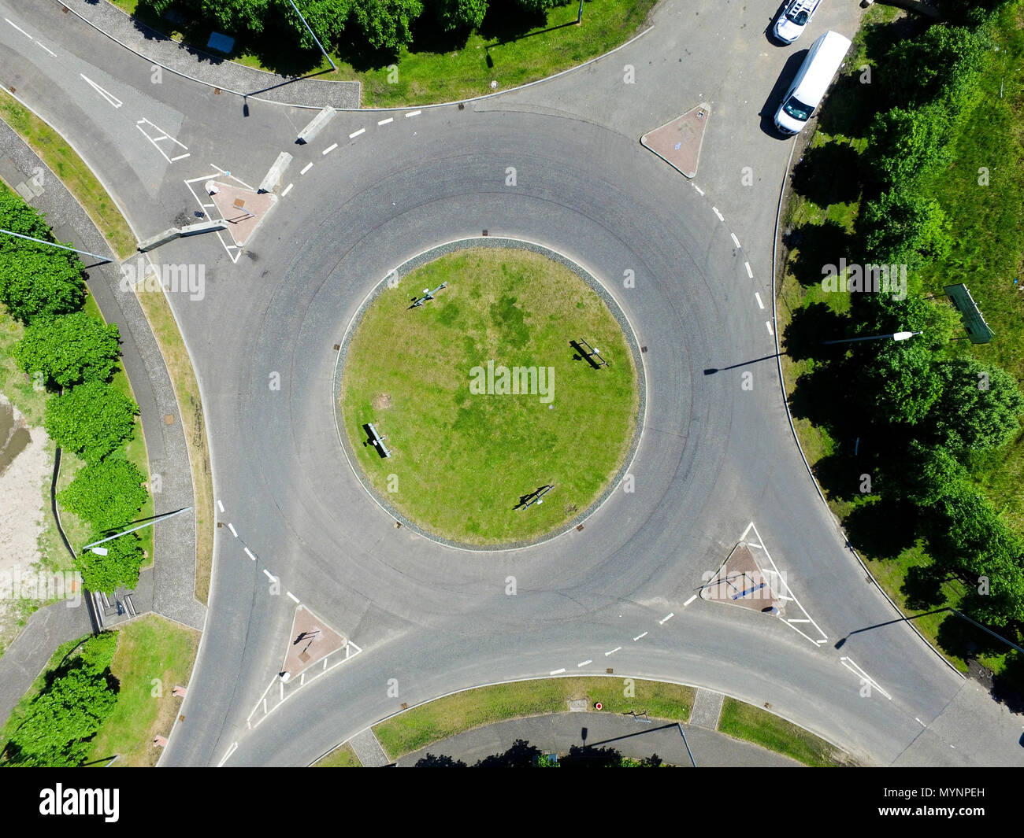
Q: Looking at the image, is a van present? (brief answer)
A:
Yes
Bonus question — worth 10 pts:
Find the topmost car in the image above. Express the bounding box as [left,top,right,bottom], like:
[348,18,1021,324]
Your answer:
[775,0,825,46]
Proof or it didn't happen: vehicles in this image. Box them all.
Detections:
[775,33,850,136]
[775,0,825,46]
